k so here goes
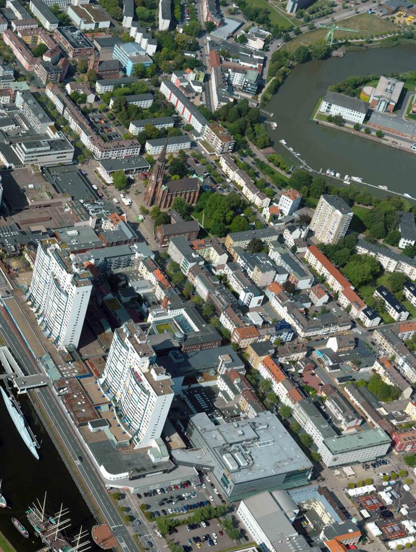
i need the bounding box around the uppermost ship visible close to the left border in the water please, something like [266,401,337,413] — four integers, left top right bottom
[0,385,40,459]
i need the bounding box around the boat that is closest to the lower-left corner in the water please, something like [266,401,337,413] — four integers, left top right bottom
[11,516,28,538]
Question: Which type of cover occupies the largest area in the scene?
buildings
